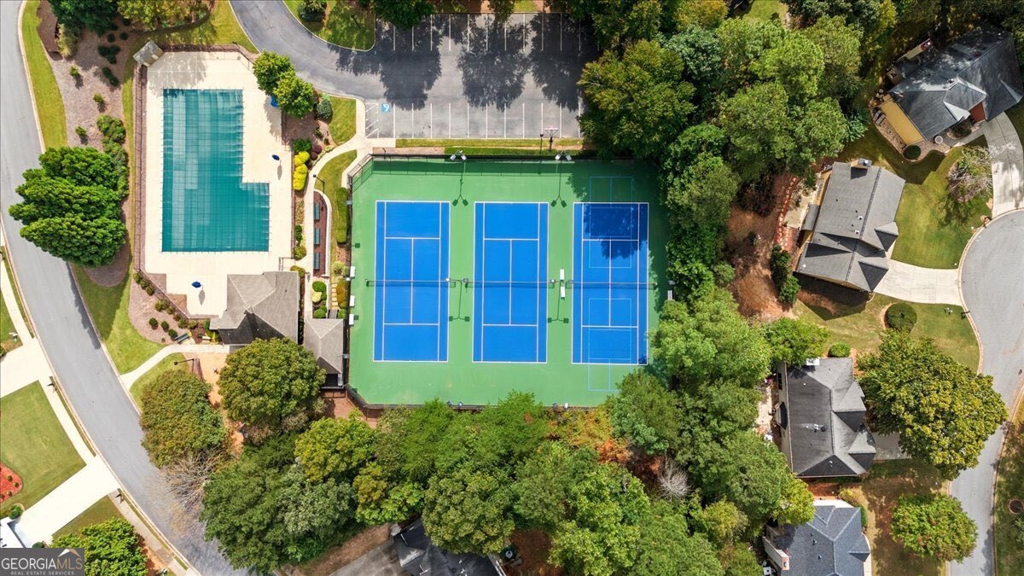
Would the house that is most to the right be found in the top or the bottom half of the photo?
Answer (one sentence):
It is in the top half that the house that is most to the right appears.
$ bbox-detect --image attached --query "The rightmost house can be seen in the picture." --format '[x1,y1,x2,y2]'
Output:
[865,16,1024,151]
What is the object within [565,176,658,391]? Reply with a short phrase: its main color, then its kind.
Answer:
blue tennis court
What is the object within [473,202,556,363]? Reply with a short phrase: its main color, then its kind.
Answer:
blue tennis court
